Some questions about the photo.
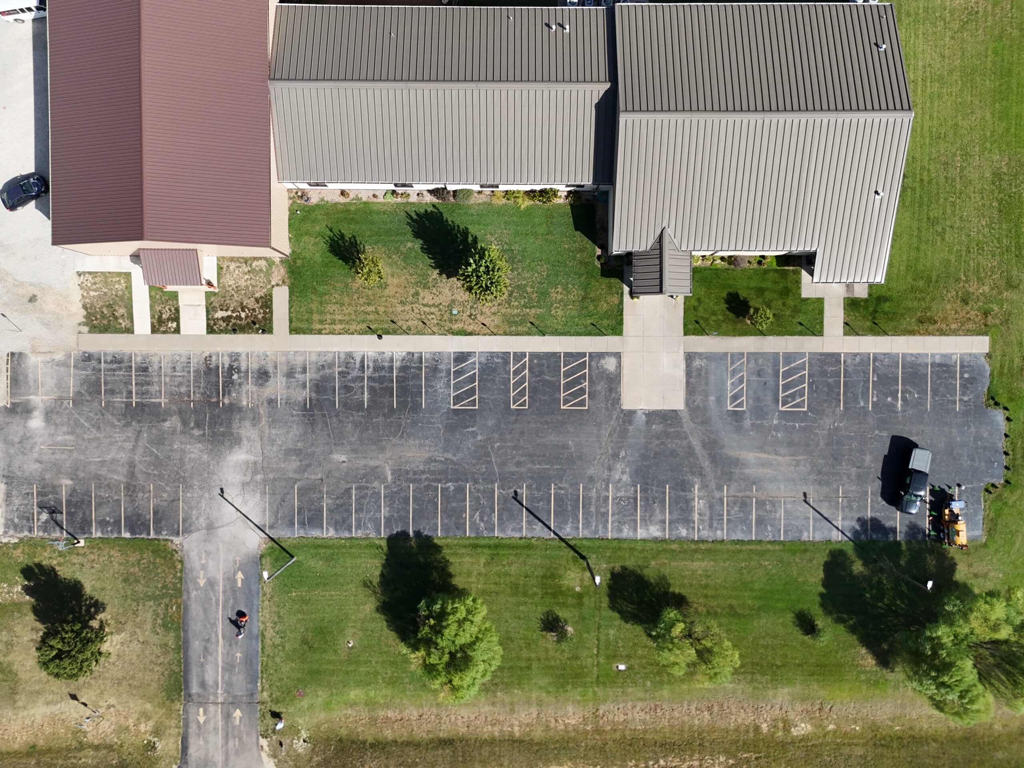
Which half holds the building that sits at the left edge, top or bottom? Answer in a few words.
top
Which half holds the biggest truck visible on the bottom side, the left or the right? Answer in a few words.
right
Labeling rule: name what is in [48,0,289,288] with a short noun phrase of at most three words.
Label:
building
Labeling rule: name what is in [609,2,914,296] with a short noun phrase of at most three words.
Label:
building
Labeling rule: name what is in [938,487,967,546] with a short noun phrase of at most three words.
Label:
trailer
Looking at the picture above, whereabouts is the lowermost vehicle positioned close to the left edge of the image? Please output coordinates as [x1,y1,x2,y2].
[1,178,48,210]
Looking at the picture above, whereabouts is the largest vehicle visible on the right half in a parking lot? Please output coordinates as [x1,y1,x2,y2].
[895,447,932,514]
